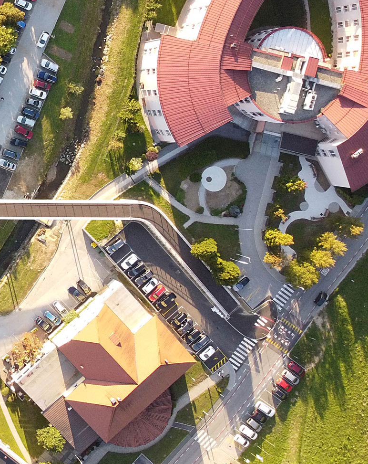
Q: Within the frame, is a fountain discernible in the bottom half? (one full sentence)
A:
No, no fountain is visible in the bottom half.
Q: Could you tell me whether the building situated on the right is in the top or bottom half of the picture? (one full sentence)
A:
It is in the top half that the building situated on the right appears.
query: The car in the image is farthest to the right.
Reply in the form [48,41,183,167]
[312,290,328,308]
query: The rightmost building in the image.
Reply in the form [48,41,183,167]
[137,0,368,192]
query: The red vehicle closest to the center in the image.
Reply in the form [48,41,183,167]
[148,284,167,301]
